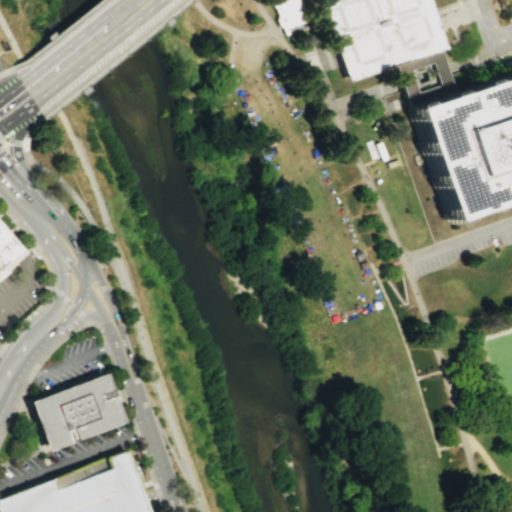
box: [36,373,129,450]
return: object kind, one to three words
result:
building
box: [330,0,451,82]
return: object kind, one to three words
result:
building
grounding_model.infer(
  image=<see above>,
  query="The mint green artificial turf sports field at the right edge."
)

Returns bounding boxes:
[486,334,512,399]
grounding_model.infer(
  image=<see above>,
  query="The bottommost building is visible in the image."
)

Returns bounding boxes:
[0,450,156,512]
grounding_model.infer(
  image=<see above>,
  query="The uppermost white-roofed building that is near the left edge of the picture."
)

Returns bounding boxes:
[0,217,32,284]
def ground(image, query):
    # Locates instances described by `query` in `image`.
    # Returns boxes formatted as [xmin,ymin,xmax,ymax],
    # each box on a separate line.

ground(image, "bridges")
[15,0,195,120]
